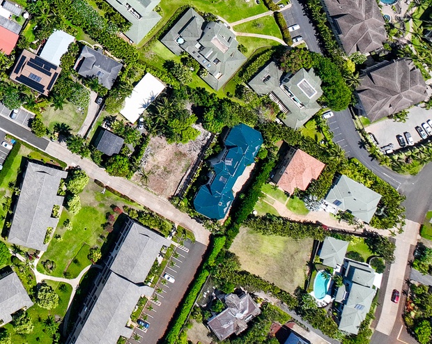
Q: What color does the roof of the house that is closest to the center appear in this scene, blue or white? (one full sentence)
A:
From above, the roof of the house that is closest to the center appears blue.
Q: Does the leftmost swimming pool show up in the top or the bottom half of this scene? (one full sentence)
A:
You can find the leftmost swimming pool in the bottom half.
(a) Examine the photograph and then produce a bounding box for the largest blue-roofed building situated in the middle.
[190,123,264,224]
